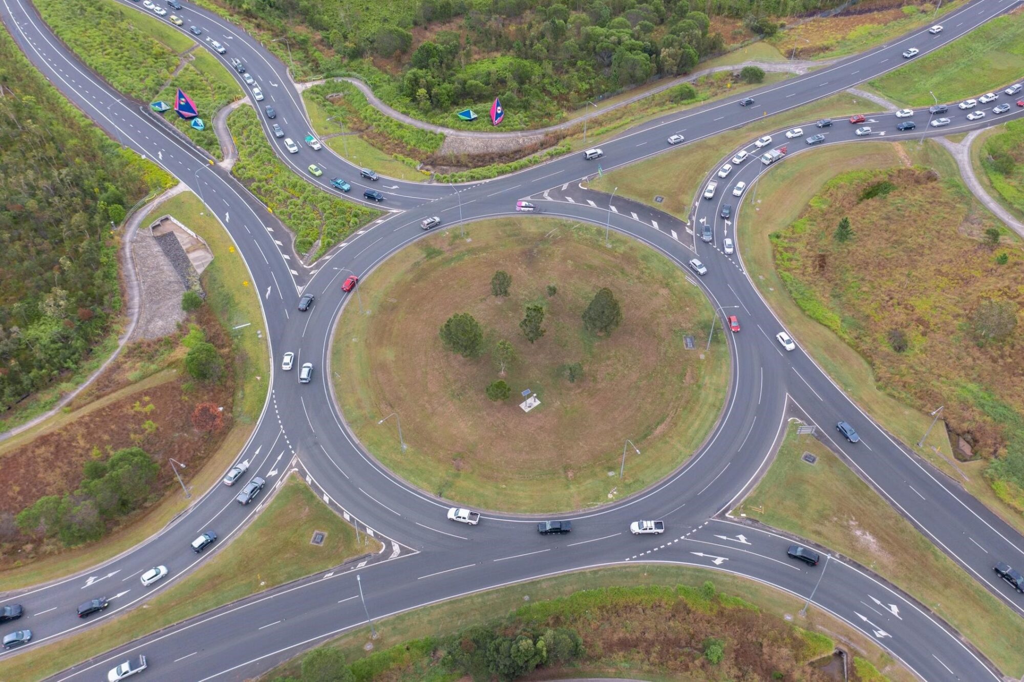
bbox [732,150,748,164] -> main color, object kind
white car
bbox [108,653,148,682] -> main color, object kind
white truck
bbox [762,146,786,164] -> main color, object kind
white vehicle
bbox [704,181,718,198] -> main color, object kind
white vehicle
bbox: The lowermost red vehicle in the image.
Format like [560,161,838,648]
[728,316,740,333]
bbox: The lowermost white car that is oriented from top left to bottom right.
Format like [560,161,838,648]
[775,331,795,351]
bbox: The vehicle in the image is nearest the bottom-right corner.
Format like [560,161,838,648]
[991,562,1024,595]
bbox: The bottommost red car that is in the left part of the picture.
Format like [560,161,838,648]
[340,276,359,293]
